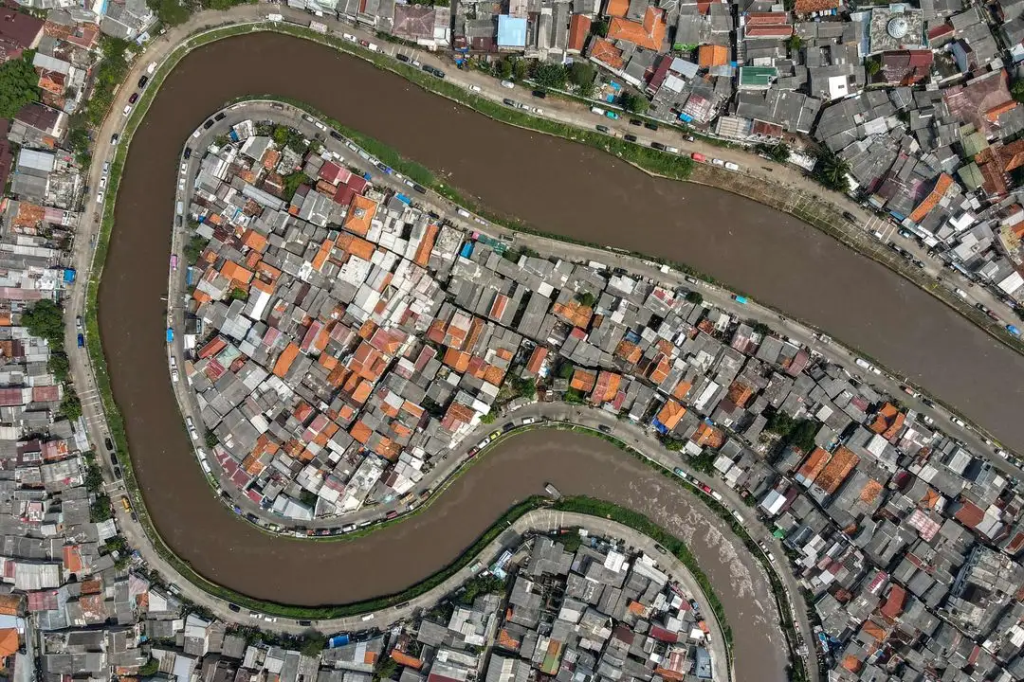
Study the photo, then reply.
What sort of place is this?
residential area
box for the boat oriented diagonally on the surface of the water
[544,483,560,501]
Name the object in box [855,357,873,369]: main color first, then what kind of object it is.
white vehicle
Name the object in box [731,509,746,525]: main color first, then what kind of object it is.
white vehicle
